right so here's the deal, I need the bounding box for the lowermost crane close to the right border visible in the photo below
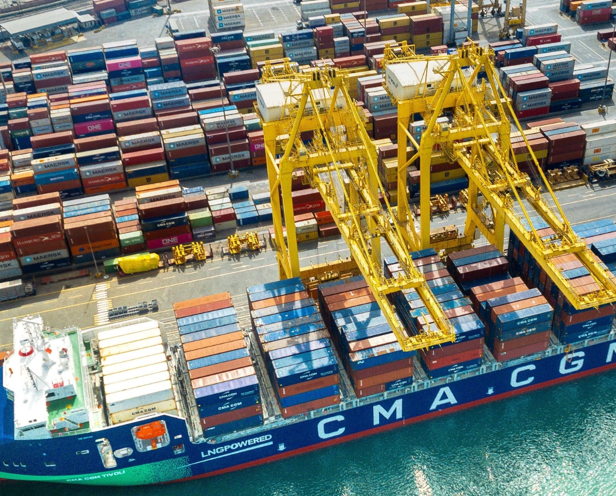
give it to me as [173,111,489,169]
[381,28,616,319]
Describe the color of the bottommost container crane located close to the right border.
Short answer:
yellow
